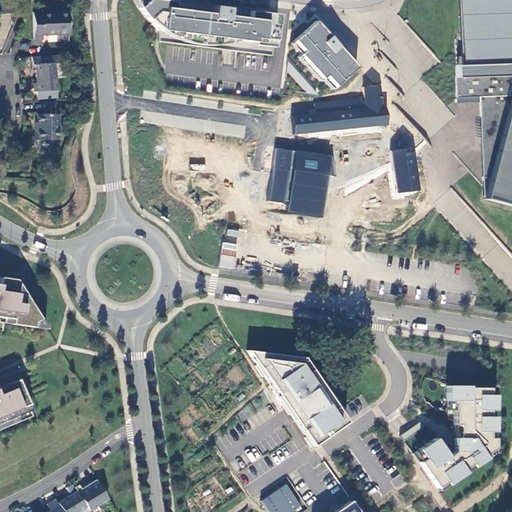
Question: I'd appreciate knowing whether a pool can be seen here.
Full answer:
No, no pool is visible in the scene.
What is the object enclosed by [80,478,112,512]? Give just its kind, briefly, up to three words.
house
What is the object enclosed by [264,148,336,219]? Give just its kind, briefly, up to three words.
house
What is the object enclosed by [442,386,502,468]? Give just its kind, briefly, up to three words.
building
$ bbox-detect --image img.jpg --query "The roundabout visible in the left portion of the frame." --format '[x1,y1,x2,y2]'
[72,222,176,326]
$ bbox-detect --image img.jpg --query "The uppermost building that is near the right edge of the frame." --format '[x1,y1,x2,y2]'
[458,0,512,65]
